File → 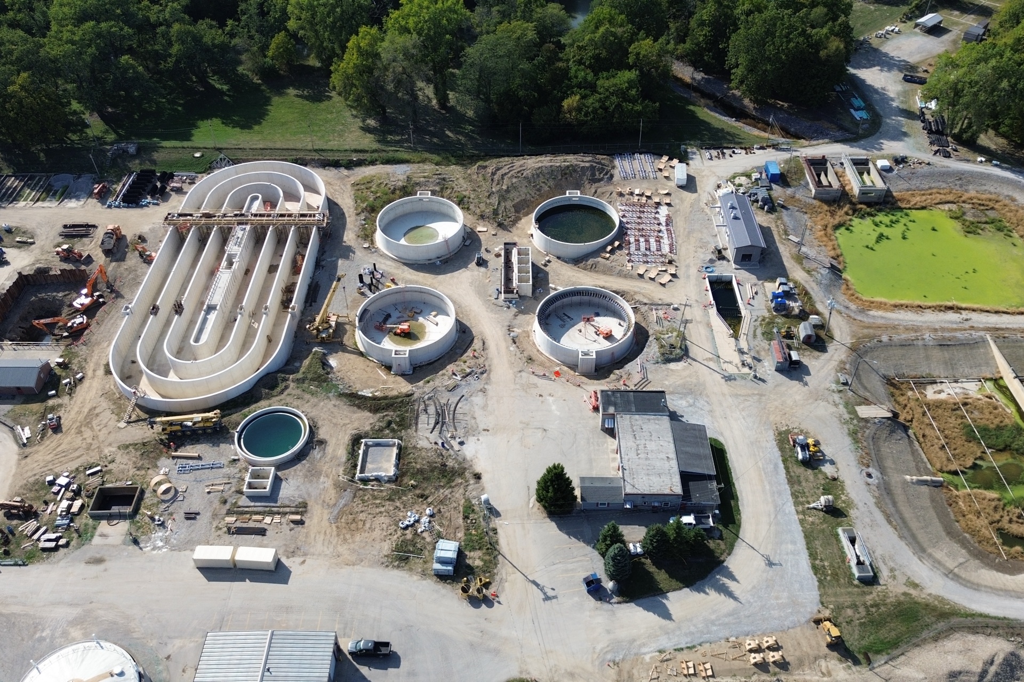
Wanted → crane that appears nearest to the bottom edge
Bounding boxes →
[136,411,222,439]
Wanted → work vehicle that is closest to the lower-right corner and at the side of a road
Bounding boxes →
[808,613,848,651]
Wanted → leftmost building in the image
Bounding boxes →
[0,353,56,402]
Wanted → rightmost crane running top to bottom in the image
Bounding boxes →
[310,269,349,342]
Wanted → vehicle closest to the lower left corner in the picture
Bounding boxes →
[0,496,51,521]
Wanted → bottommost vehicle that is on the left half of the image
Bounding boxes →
[347,643,391,662]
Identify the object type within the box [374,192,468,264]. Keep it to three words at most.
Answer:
storage tank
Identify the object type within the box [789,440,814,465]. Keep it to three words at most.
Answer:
work vehicle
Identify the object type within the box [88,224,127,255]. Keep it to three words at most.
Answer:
truck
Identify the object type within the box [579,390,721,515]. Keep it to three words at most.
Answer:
building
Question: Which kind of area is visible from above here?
industrial area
